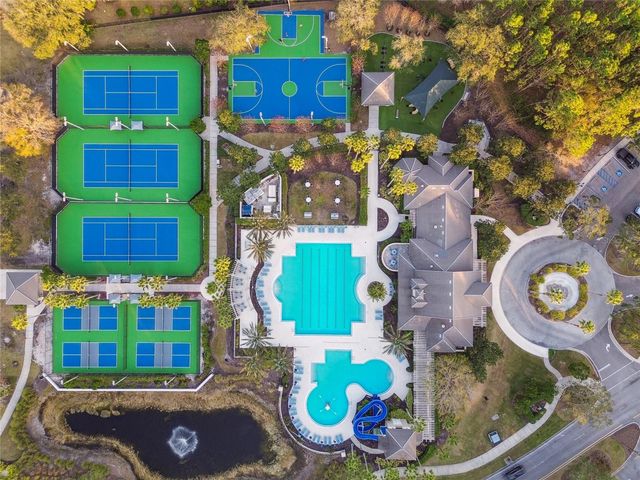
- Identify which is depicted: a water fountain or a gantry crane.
water fountain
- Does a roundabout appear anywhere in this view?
Yes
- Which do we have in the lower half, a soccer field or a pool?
pool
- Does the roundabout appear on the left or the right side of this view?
right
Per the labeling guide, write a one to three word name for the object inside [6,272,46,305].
building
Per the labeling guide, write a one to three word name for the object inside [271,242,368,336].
swimming pool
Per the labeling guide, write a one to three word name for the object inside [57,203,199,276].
tennis court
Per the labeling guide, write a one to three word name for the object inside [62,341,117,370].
sports court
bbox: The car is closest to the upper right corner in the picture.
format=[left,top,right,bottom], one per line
[619,149,639,168]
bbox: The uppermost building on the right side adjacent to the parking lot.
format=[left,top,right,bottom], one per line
[395,155,492,352]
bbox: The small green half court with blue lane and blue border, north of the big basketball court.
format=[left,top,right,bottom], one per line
[258,9,351,55]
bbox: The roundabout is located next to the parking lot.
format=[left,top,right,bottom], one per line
[501,234,615,348]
